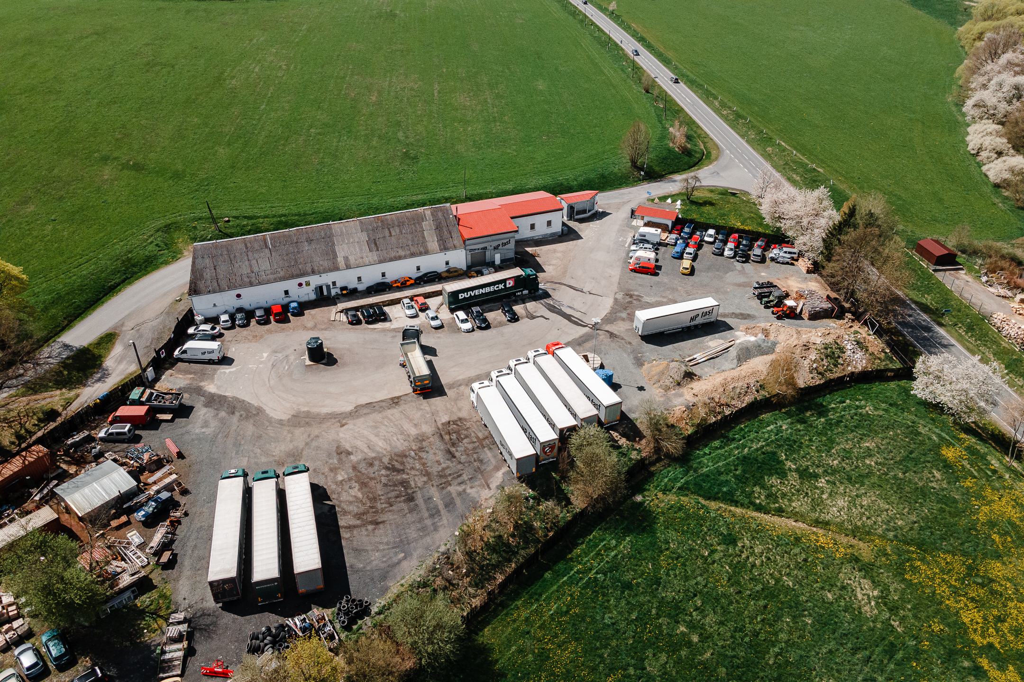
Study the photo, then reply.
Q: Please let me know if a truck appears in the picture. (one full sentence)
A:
Yes, this view includes a truck.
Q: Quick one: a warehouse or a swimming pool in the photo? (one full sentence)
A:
The one in the frame is a warehouse.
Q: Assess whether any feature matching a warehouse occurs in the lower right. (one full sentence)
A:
No, I see no warehouse in the lower right.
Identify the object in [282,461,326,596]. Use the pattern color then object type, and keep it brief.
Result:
white truck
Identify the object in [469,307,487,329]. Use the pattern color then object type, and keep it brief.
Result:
black car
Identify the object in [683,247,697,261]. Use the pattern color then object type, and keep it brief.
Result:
gray car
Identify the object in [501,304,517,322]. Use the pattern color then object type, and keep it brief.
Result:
black car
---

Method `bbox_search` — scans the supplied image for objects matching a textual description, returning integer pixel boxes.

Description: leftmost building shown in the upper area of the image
[187,204,464,316]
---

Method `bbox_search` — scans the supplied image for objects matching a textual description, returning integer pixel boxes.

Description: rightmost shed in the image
[914,237,965,269]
